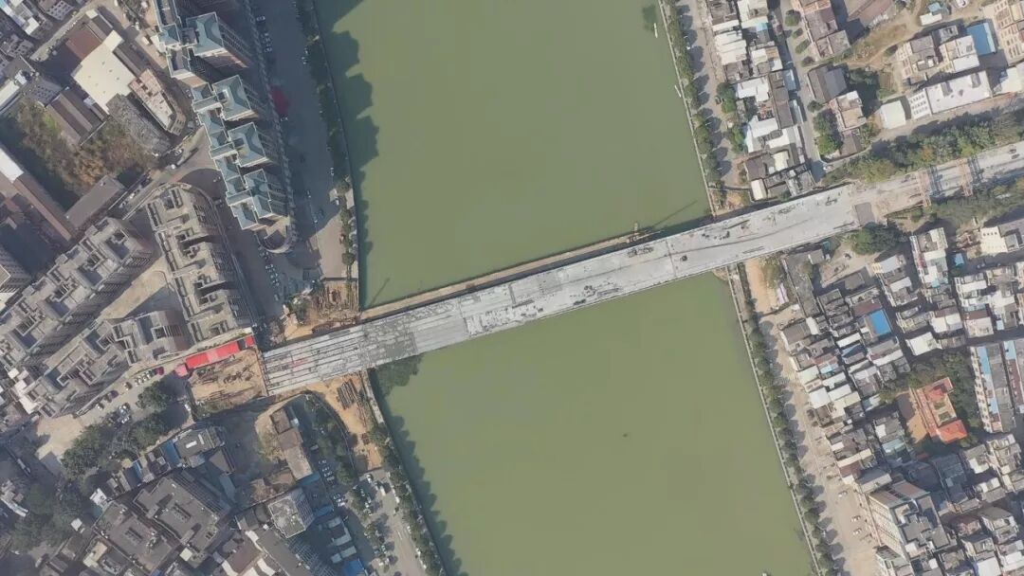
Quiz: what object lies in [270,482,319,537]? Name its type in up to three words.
building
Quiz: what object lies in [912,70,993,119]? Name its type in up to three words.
building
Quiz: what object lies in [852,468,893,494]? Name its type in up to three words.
house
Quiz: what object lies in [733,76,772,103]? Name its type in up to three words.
house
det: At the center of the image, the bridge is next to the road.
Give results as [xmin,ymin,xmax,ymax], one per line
[263,184,861,396]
